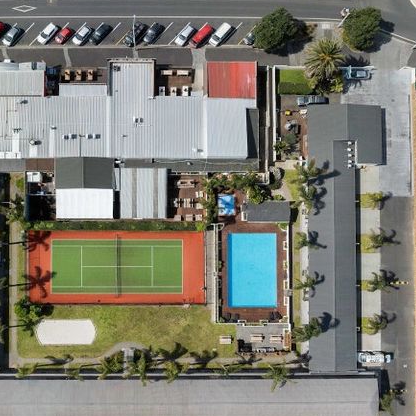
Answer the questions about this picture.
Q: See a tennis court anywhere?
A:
Yes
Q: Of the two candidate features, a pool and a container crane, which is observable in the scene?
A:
pool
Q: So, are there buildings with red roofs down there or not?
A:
Yes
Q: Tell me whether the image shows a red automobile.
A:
Yes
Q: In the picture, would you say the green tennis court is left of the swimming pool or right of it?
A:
to the left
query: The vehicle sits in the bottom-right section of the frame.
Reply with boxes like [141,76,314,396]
[358,353,393,367]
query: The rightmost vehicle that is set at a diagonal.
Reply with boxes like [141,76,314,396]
[241,28,258,48]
